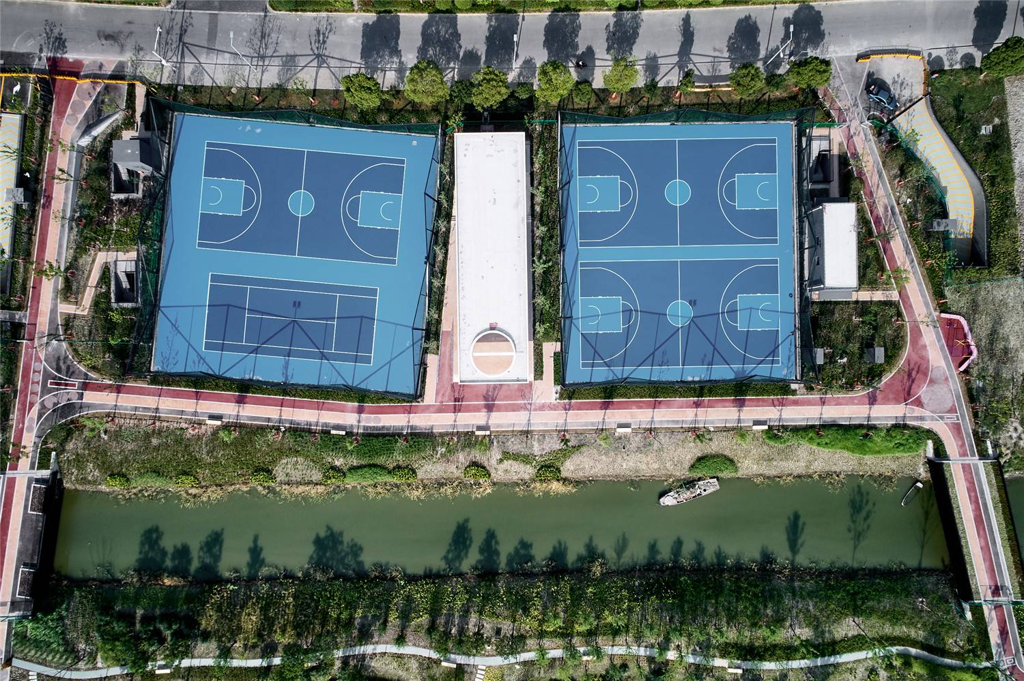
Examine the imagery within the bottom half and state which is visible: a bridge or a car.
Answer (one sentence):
There is a bridge within the bottom half.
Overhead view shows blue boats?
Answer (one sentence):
No, the scene contains no blue boat.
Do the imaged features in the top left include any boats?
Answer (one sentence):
No, there is no boat in the top left.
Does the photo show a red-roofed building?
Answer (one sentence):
No, the scene contains no red-roofed building.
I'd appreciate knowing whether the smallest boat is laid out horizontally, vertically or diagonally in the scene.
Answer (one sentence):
The smallest boat has been laid out diagonally relative to the frame.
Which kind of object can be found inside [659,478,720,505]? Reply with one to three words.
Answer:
boat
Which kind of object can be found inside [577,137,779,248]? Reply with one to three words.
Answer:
basketball court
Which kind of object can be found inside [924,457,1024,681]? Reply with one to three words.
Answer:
bridge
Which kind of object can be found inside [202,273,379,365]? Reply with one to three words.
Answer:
tennis court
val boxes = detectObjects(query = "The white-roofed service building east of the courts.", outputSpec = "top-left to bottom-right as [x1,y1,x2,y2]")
[798,197,860,300]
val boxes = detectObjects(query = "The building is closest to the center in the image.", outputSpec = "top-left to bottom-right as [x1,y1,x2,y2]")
[453,131,533,384]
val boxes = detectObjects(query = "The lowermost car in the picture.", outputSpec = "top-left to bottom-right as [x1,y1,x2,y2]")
[869,82,902,109]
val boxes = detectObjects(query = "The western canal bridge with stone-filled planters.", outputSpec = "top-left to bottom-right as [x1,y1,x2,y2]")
[0,469,62,619]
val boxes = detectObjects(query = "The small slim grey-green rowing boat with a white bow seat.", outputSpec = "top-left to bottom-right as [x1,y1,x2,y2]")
[901,481,924,506]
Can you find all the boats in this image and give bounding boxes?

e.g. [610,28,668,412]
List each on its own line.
[901,481,924,506]
[659,478,720,505]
